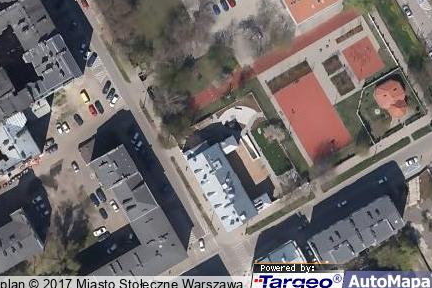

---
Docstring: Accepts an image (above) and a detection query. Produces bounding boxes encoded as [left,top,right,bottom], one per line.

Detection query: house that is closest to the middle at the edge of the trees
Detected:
[186,135,271,234]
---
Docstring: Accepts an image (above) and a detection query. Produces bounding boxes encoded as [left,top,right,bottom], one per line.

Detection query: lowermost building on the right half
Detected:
[251,238,306,286]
